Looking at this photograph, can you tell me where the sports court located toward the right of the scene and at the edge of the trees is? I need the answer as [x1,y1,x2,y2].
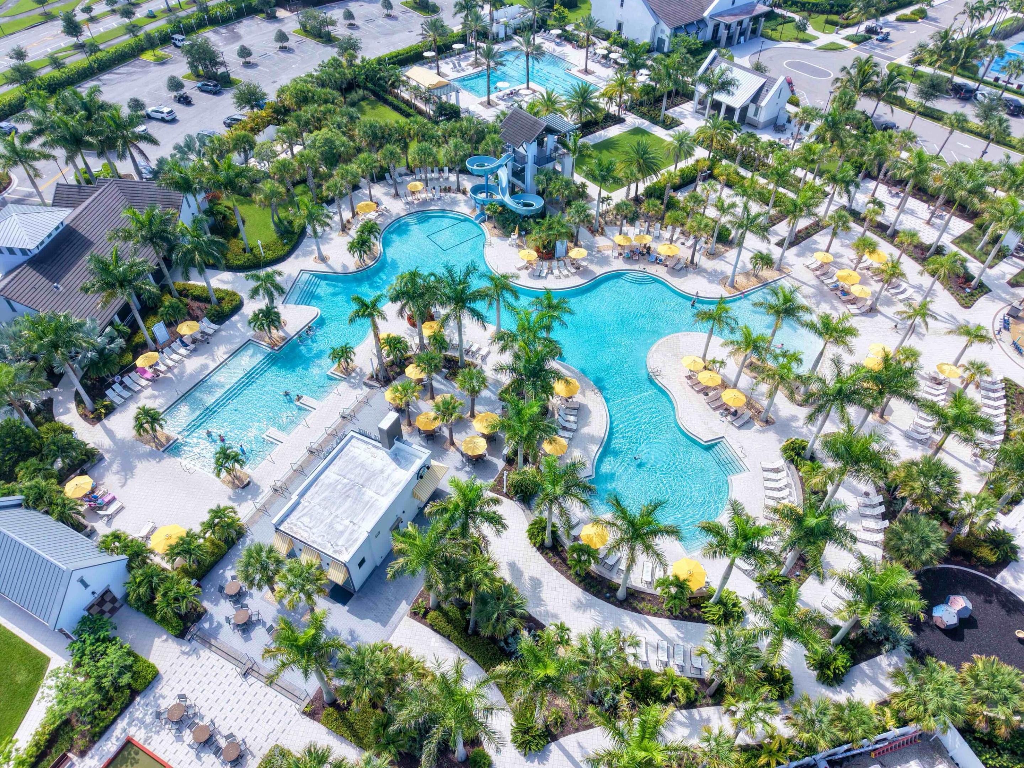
[979,31,1024,83]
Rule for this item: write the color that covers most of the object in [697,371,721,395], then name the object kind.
yellow umbrella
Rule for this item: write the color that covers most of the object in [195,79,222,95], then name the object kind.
blue car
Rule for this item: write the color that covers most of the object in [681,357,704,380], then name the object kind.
yellow umbrella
